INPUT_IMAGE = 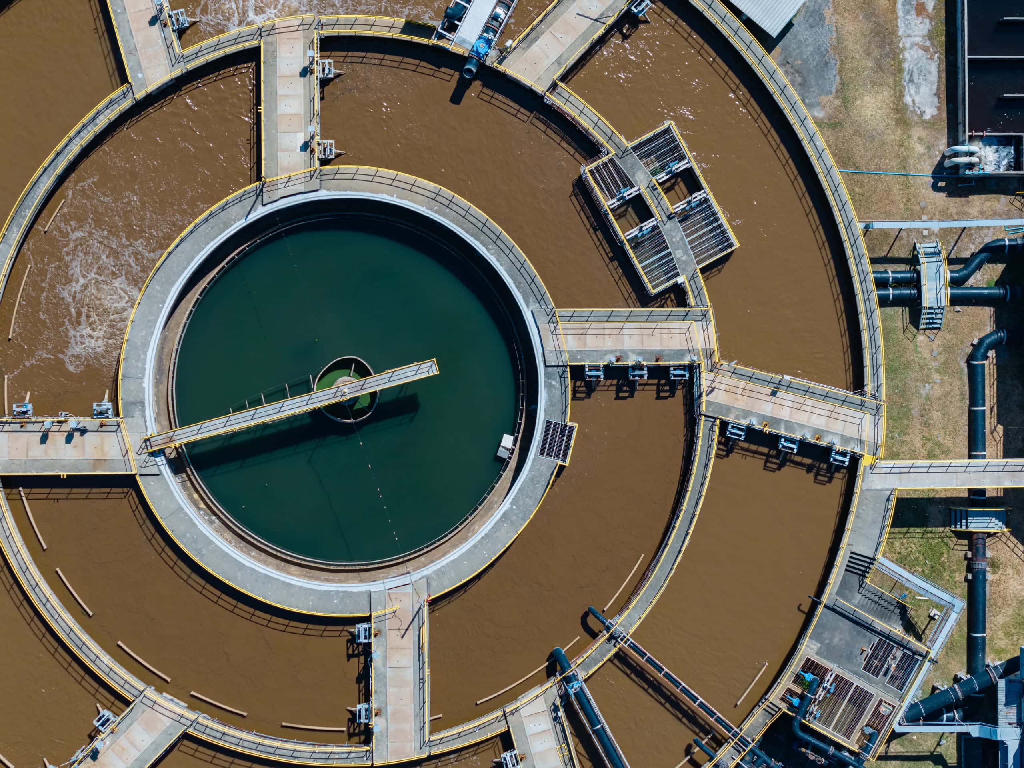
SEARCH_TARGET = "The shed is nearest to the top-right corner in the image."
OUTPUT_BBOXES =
[722,0,805,39]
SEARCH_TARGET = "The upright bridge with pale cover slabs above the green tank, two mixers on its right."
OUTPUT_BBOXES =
[262,14,320,205]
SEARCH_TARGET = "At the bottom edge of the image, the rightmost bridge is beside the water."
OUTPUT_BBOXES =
[505,675,580,768]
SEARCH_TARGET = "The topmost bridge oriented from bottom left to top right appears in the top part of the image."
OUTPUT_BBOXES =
[492,0,634,94]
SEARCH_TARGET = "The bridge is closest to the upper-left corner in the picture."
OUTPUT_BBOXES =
[109,0,185,98]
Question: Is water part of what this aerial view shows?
Yes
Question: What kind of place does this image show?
industrial area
